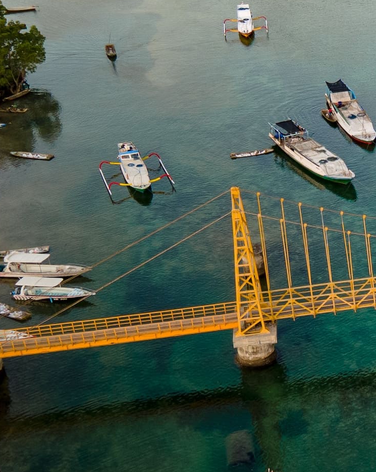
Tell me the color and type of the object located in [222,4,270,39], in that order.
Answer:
white boat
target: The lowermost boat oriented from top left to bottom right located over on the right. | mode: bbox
[260,119,355,187]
